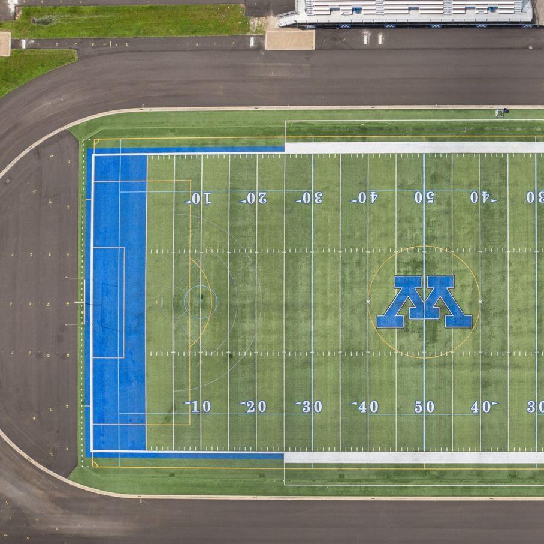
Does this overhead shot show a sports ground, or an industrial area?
sports ground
